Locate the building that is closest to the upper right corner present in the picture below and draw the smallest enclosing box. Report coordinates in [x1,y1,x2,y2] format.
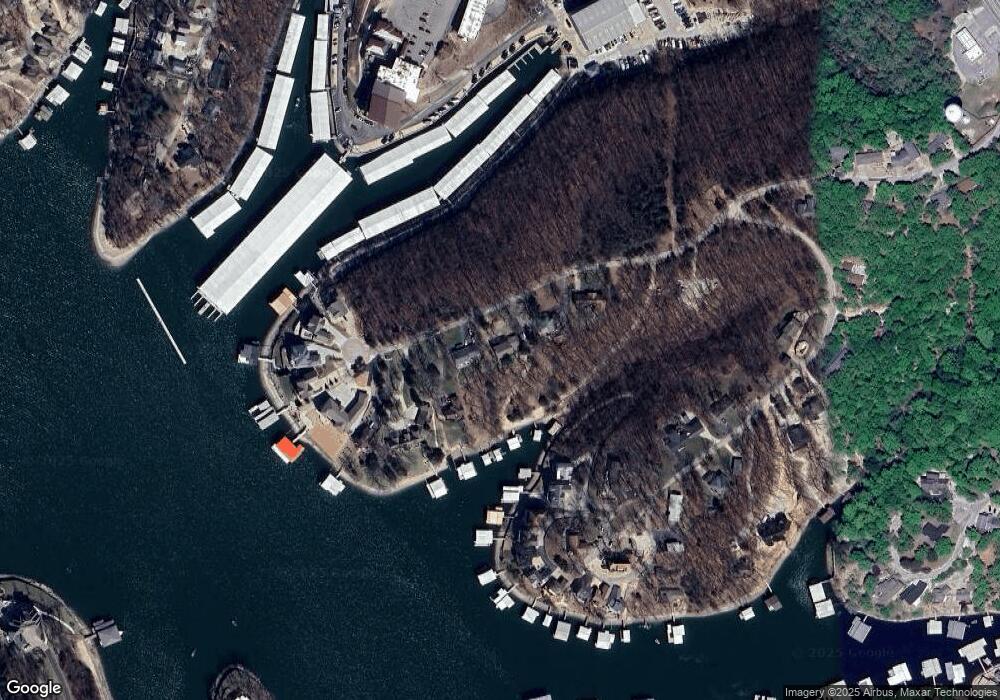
[958,26,984,59]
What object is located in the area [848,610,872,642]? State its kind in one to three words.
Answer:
pier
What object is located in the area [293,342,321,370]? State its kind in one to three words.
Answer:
house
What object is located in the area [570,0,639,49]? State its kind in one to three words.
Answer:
building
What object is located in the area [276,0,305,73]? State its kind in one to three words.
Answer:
pier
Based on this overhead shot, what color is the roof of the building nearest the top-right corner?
white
